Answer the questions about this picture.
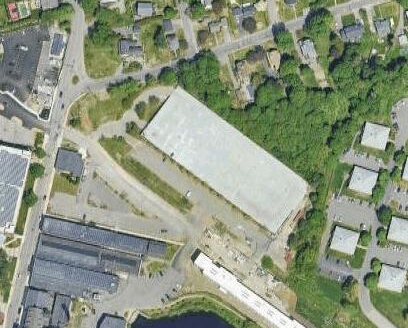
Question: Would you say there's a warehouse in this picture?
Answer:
Yes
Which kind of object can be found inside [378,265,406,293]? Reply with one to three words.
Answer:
building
